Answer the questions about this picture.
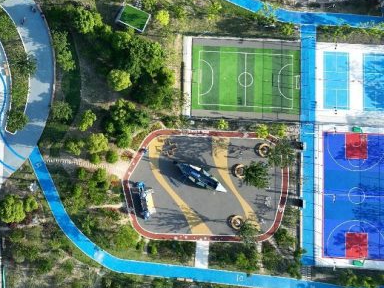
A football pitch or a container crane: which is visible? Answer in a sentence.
Looking from above, you can make out a football pitch.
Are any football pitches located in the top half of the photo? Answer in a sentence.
Yes, the scene does show a football pitch in the top half of the photo.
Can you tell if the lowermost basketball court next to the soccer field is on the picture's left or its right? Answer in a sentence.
It is on the right.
